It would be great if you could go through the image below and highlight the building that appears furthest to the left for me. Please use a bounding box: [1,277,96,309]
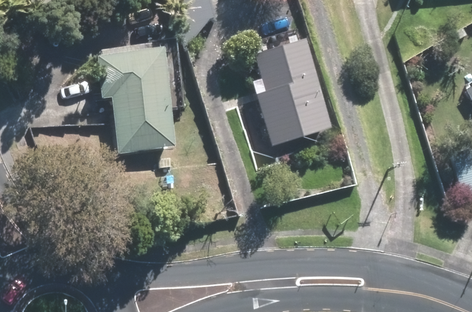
[98,45,175,154]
